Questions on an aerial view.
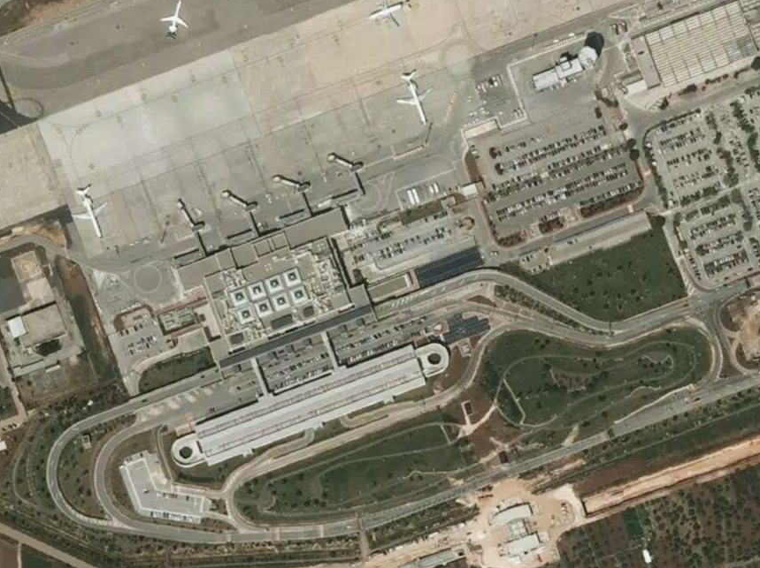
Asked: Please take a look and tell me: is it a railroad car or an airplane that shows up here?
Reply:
airplane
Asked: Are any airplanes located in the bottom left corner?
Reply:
No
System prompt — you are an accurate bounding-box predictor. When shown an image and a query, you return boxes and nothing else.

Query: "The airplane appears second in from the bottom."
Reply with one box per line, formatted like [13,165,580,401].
[395,68,432,123]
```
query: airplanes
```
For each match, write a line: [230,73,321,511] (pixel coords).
[395,68,432,123]
[369,0,411,27]
[71,183,108,237]
[161,0,189,35]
